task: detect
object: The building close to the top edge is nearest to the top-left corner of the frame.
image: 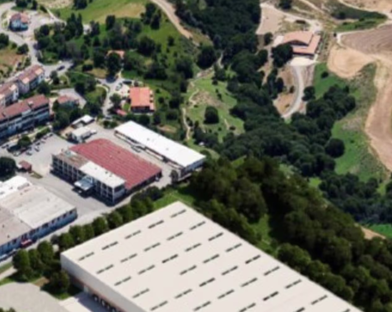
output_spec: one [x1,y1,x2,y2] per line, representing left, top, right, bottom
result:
[5,13,32,32]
